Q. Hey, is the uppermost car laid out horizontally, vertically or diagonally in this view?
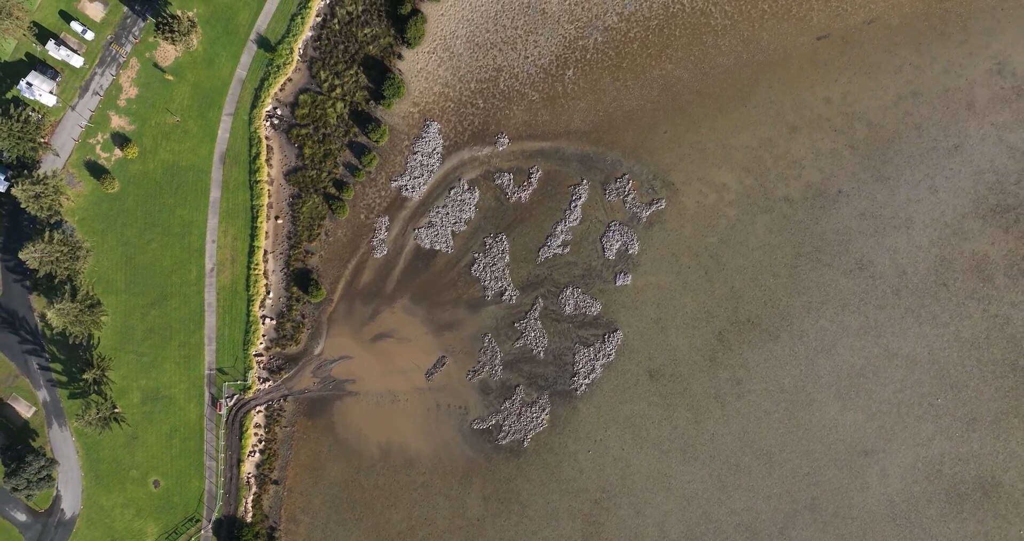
diagonally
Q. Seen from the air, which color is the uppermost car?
white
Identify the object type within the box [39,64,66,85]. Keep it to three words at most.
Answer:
car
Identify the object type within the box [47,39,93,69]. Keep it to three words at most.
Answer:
camper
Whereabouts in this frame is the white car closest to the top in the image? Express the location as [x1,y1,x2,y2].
[71,20,97,42]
